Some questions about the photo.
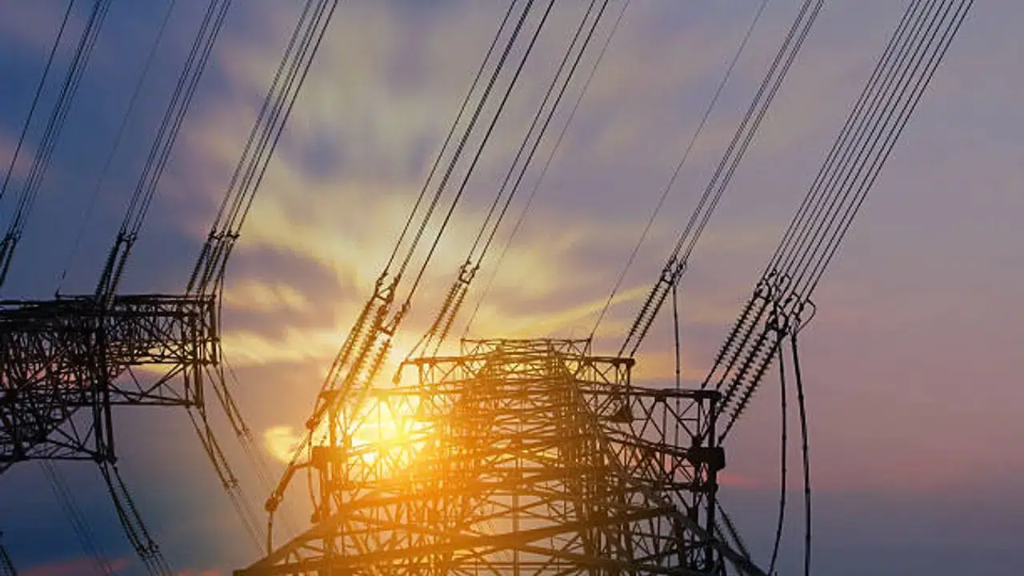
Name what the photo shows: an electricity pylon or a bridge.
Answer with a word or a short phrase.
electricity pylon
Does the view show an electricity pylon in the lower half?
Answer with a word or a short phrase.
Yes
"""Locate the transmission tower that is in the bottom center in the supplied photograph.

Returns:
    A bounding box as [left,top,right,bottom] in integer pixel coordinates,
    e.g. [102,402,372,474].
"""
[223,331,772,576]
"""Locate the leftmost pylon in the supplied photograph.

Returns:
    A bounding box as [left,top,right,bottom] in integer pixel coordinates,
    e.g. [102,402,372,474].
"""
[0,294,222,487]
